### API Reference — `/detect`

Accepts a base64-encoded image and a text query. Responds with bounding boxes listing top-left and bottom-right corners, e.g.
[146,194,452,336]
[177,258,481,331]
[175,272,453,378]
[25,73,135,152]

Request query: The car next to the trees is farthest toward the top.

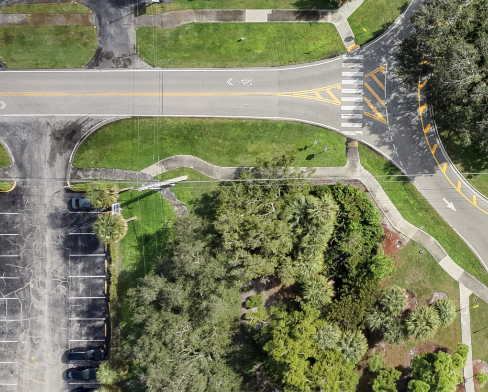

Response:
[66,196,96,213]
